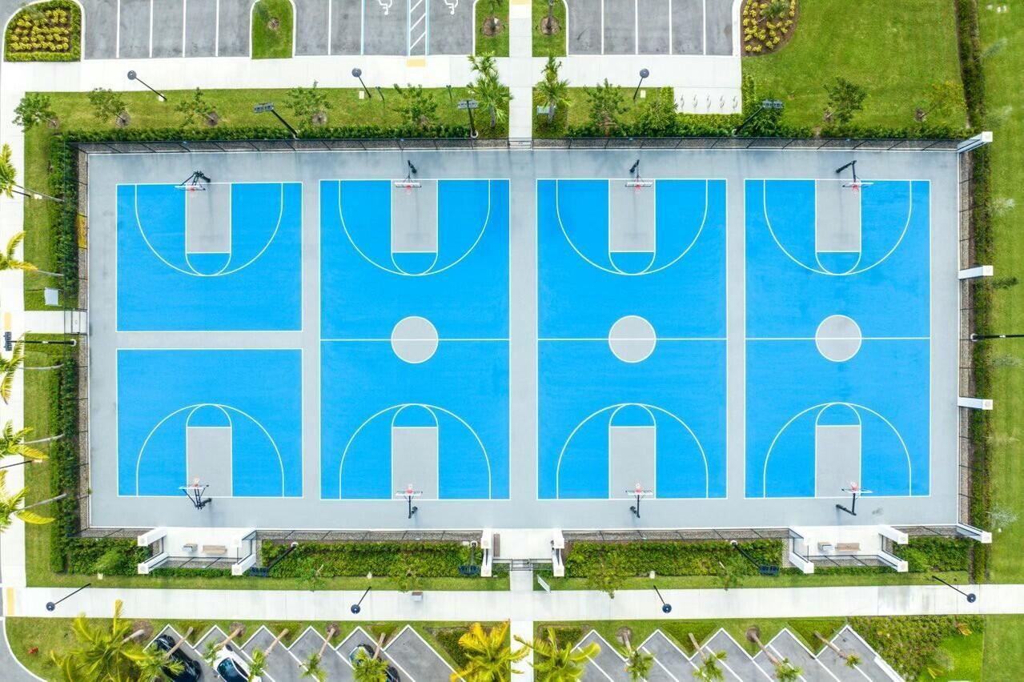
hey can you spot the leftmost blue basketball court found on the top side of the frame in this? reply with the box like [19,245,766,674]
[116,183,303,331]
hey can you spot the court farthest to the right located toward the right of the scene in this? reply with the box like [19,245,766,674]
[745,180,931,499]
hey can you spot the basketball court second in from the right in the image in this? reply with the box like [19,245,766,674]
[537,179,727,500]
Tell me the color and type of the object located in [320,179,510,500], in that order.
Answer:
blue basketball court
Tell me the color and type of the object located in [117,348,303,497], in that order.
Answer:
blue basketball court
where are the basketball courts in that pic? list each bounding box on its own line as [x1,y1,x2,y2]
[117,348,303,497]
[745,180,931,499]
[320,179,510,500]
[537,179,727,500]
[116,183,303,331]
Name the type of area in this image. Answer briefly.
sports ground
